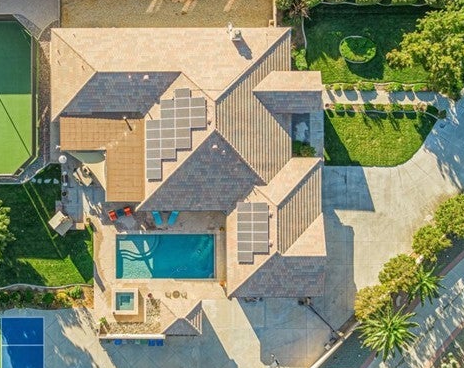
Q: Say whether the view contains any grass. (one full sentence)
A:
Yes, some grass is visible.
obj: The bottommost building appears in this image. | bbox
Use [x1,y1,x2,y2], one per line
[160,301,201,335]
